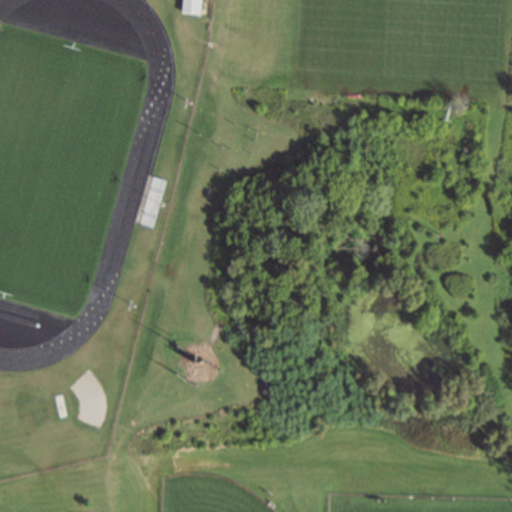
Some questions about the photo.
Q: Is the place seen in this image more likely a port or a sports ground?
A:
sports ground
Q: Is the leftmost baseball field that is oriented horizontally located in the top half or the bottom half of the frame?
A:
bottom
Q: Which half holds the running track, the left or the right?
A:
left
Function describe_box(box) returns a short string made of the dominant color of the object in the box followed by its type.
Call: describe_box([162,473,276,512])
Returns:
green baseball field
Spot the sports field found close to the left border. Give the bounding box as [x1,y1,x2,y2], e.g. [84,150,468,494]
[0,22,149,321]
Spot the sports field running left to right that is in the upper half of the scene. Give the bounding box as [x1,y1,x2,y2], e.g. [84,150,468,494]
[289,0,507,93]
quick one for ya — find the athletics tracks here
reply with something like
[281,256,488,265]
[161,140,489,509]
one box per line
[0,0,173,373]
